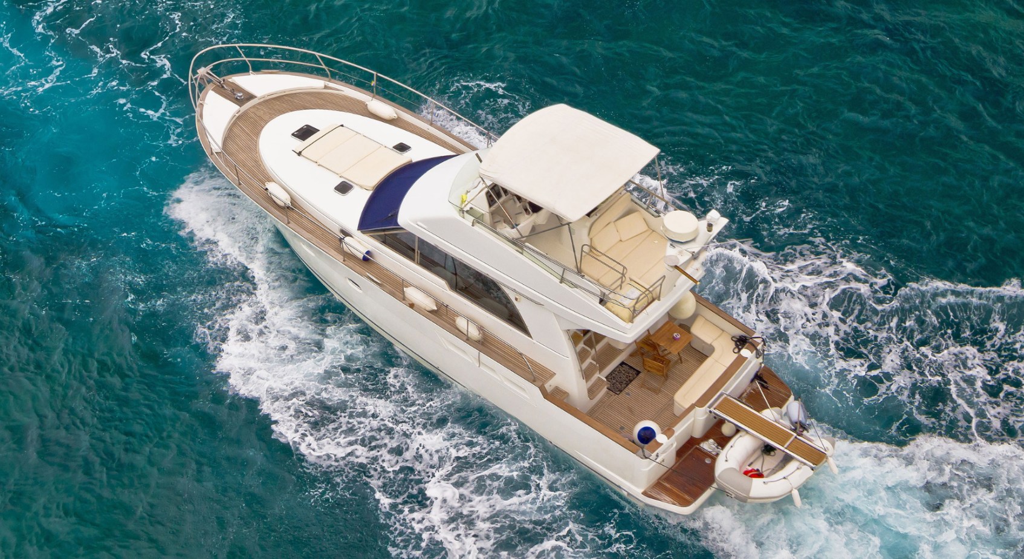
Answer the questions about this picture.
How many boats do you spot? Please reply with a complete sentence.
There are 2 boats in the image.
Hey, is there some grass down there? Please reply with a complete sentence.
No, the picture contains no grass.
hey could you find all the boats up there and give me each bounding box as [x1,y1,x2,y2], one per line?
[710,406,844,507]
[184,42,827,522]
